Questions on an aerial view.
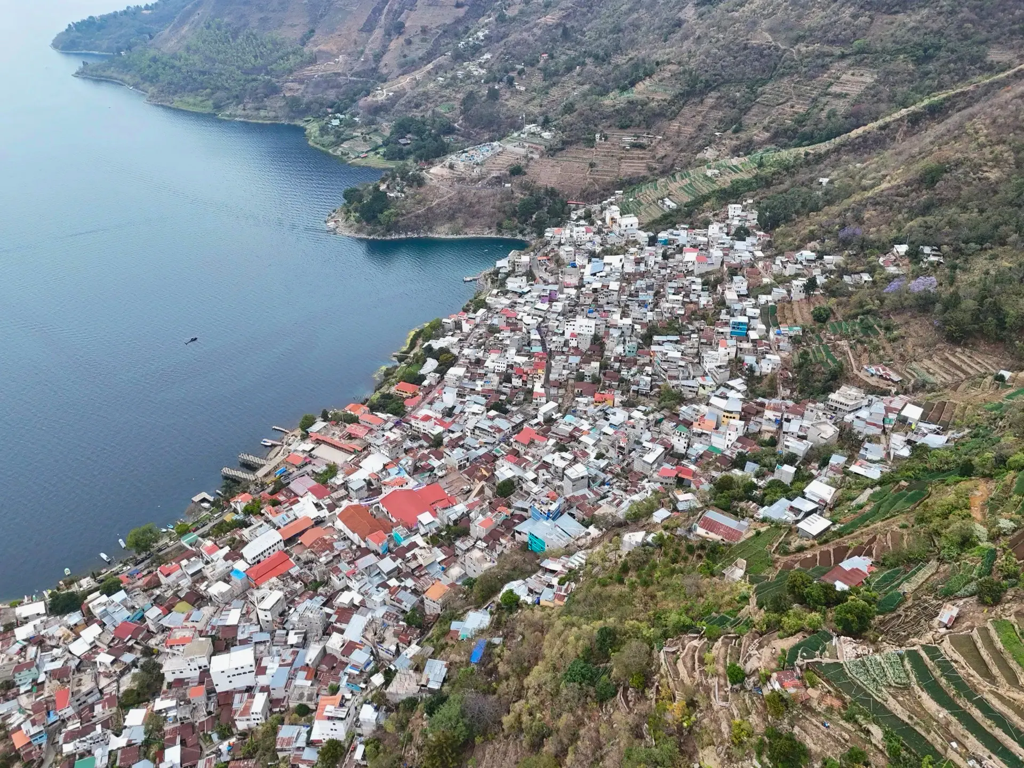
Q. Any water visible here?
Yes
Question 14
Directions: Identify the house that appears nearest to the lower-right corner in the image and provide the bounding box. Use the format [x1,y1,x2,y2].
[932,600,964,632]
